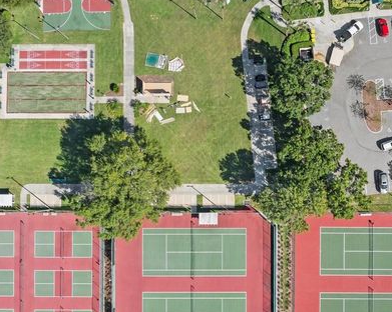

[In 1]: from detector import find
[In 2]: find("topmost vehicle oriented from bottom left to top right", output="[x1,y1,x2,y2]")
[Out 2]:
[336,20,365,43]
